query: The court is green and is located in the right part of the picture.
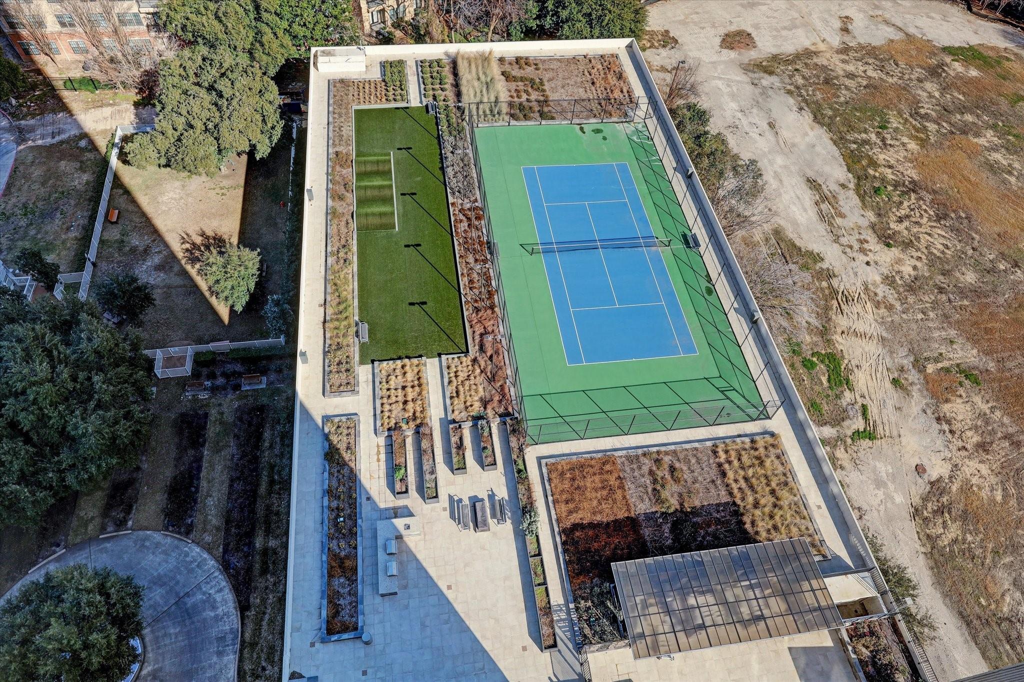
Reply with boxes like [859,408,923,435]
[480,120,771,445]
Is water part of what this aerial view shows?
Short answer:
No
